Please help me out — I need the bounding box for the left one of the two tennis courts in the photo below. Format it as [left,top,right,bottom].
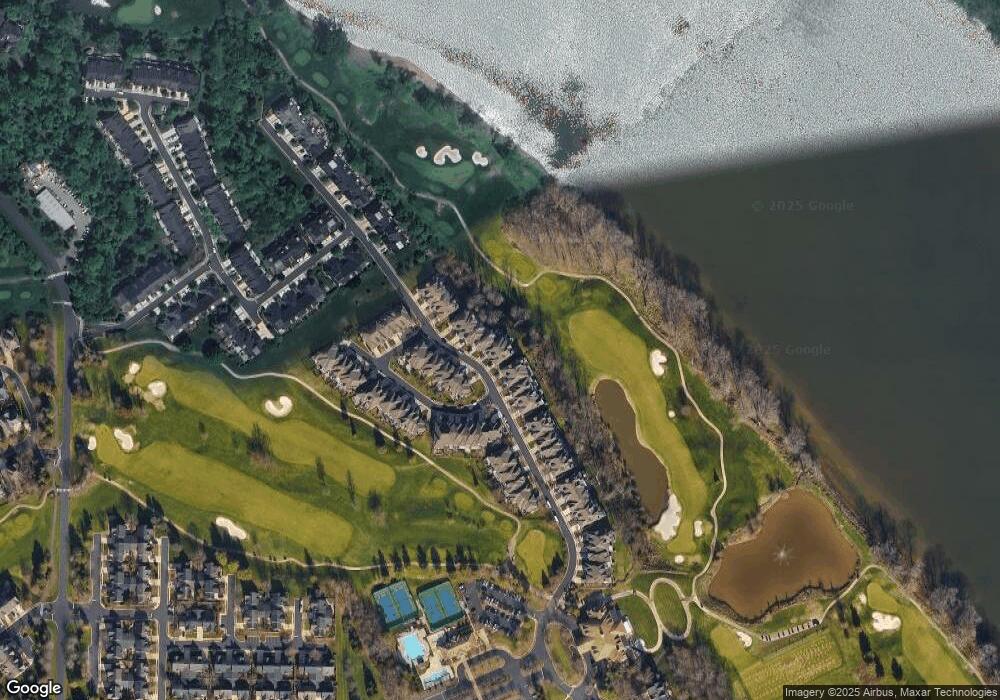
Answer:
[373,580,419,626]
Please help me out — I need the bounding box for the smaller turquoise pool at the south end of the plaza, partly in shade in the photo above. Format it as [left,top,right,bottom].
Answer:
[420,665,457,690]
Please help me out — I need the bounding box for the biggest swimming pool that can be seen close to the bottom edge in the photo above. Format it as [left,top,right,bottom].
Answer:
[397,629,430,668]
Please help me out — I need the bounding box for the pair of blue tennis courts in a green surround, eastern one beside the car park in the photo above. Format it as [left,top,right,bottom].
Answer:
[417,580,464,627]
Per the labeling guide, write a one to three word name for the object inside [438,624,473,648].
building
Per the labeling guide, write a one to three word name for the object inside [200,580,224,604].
house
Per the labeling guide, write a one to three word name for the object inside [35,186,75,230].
shed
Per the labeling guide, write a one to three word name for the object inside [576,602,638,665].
building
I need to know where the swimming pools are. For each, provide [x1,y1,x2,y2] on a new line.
[397,629,430,668]
[420,665,457,690]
